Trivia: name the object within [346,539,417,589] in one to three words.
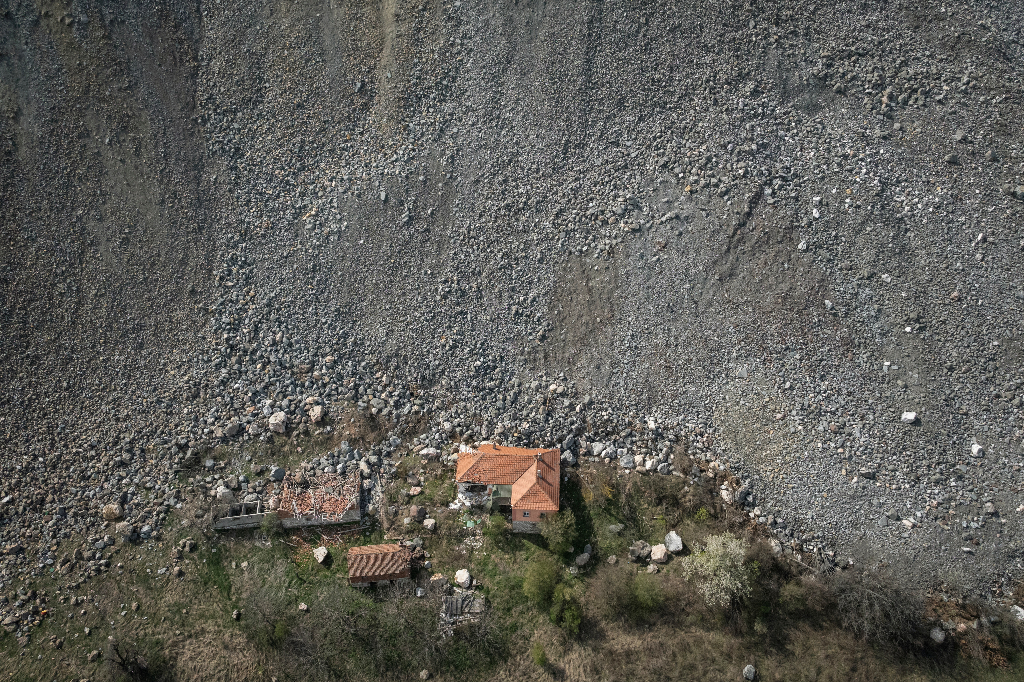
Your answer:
barn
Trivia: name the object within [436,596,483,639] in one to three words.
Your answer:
shed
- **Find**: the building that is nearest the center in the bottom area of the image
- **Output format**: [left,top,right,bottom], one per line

[453,443,564,534]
